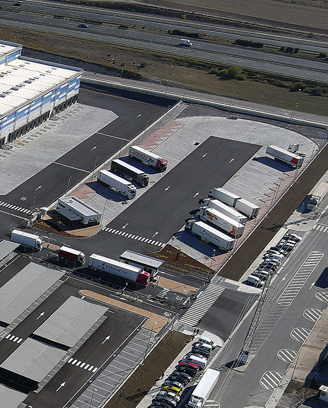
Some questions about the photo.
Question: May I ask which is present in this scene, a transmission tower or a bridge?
transmission tower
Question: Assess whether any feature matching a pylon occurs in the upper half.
No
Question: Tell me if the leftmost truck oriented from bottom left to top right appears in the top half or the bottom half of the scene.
bottom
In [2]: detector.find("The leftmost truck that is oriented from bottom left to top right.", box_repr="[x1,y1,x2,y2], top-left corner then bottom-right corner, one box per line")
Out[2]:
[184,364,221,408]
